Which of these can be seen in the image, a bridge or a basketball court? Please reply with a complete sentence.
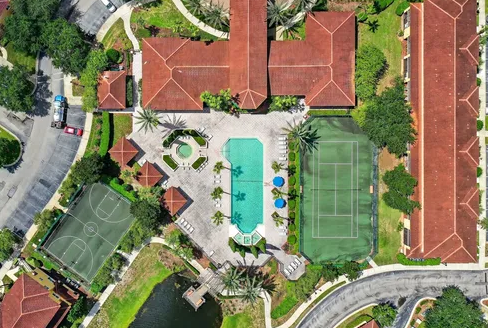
Looking from above, you can make out a basketball court.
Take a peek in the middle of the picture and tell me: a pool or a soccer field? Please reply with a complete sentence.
Visible in the middle of the picture is a pool.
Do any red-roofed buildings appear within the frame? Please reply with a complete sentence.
Yes, there is a red-roofed building in the image.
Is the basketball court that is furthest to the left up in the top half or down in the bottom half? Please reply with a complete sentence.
The basketball court that is furthest to the left is in the bottom half of the image.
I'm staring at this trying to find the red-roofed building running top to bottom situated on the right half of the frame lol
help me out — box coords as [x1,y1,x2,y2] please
[402,0,479,262]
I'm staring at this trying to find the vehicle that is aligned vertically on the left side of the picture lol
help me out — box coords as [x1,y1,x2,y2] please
[52,93,66,129]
